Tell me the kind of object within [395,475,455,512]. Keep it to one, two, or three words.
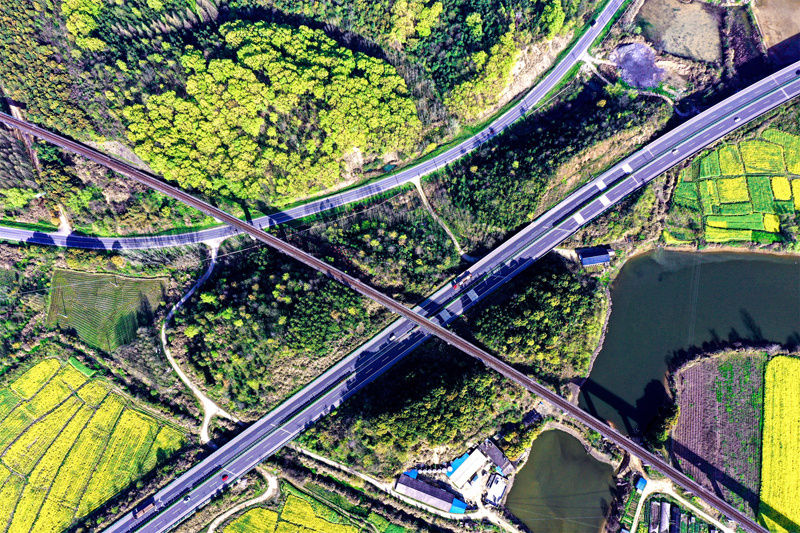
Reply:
barn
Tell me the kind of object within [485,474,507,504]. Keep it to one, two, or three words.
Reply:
house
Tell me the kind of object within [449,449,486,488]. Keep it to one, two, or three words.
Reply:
shed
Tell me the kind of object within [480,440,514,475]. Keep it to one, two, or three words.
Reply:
house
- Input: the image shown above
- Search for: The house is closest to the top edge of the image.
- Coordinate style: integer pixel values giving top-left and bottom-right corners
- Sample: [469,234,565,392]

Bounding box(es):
[582,247,610,266]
